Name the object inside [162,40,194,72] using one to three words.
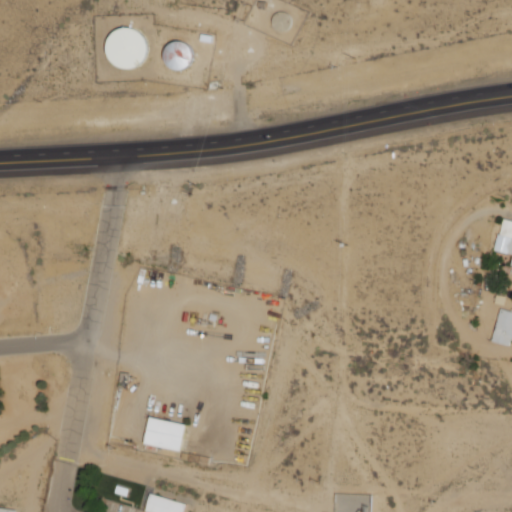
water tank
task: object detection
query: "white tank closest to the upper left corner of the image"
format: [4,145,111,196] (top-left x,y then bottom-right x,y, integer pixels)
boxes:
[104,23,150,71]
